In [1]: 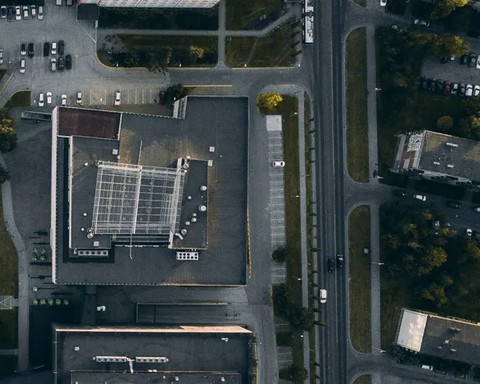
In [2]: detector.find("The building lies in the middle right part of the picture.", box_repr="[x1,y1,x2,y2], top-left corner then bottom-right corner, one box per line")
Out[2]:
[394,130,480,194]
